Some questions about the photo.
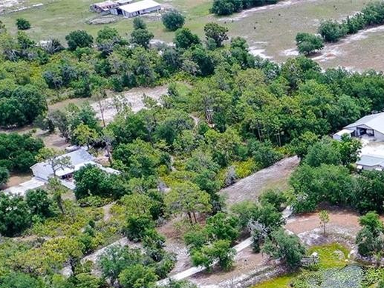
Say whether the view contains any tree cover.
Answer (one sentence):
Yes, tree cover shows up in the scene.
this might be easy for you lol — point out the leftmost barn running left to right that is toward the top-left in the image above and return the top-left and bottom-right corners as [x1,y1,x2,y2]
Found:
[78,1,119,14]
